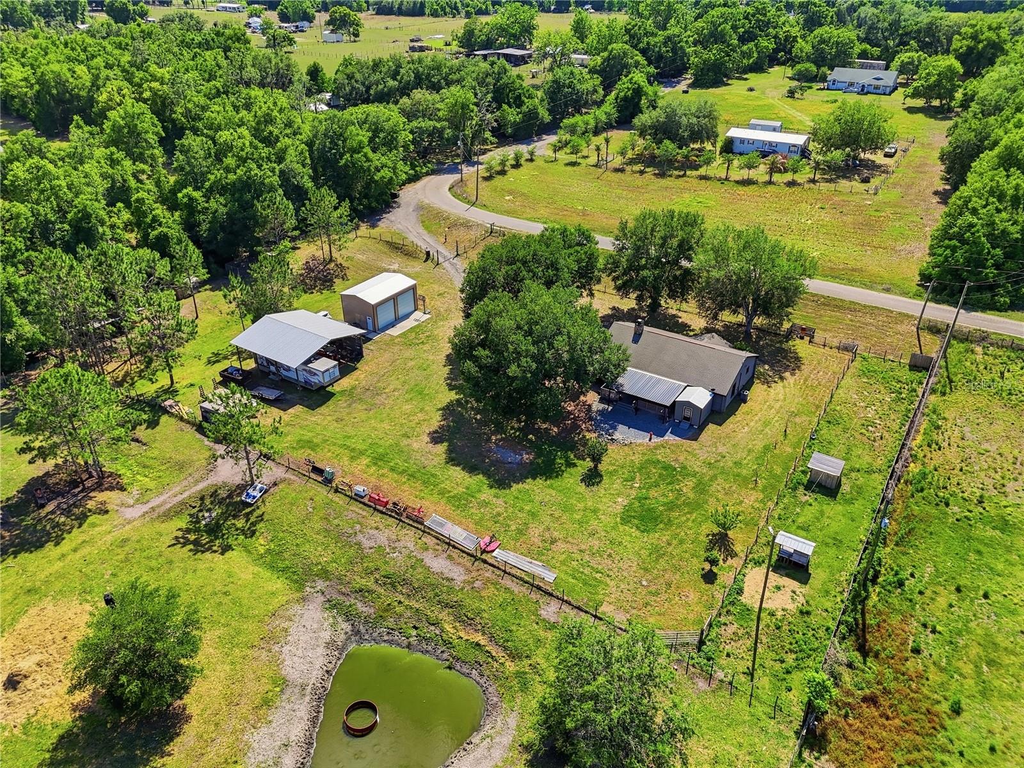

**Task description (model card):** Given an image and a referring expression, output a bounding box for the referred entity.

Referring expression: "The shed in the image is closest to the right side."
[910,351,939,370]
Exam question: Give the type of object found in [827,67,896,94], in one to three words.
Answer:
house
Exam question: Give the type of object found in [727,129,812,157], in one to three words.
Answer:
house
